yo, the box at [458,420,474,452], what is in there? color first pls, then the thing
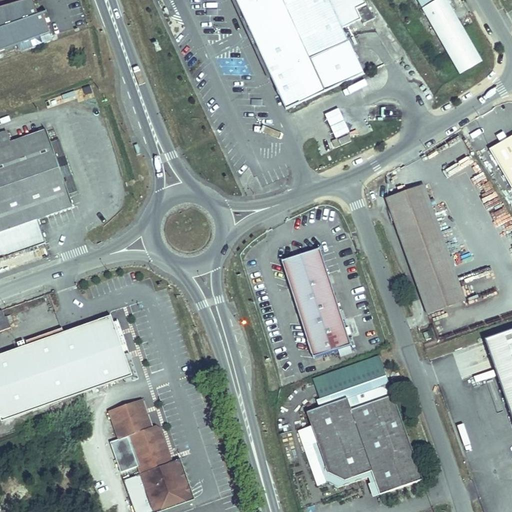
white vehicle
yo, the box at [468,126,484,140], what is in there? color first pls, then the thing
white vehicle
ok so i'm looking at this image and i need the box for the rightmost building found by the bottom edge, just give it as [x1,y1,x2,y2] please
[352,394,422,495]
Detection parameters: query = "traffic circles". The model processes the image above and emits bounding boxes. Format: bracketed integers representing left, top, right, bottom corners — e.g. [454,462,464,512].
[145,186,230,272]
